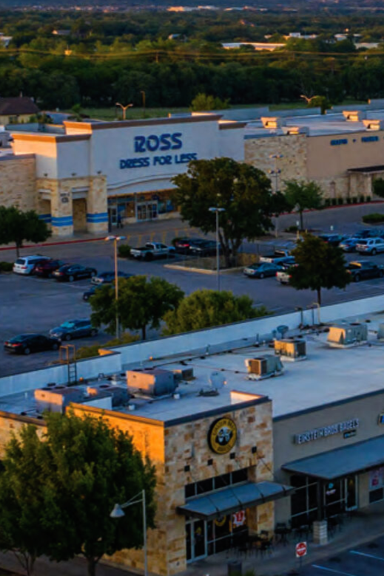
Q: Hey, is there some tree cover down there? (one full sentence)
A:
Yes, there is tree cover in the image.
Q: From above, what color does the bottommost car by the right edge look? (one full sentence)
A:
The color of the bottommost car by the right edge is black.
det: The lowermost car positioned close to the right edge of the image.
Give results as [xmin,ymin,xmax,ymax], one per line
[338,257,384,280]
